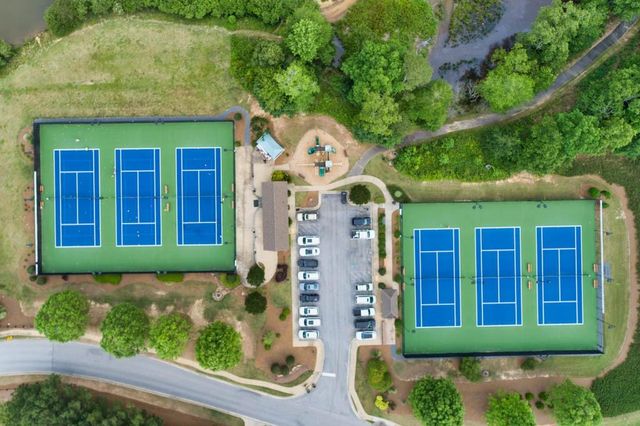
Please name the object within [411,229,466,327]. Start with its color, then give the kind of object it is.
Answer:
blue tennis court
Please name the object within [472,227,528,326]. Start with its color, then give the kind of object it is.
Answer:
blue tennis court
